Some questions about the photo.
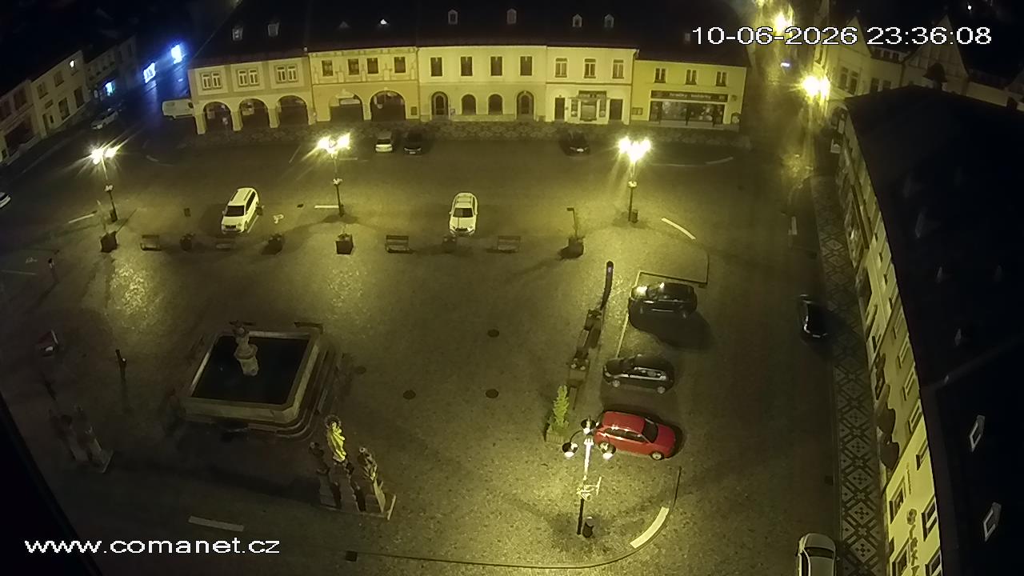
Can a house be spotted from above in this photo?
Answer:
Yes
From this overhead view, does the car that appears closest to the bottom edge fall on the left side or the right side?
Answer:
right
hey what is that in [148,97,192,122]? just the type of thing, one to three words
vehicle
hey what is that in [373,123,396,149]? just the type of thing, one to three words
car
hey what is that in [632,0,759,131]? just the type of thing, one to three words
house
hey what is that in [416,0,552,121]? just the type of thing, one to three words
house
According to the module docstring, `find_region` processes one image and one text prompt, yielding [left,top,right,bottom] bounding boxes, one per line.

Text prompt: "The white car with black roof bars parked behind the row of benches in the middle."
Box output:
[449,193,479,233]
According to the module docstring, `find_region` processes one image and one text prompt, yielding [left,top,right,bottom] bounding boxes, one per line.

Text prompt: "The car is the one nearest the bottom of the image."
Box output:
[795,540,852,576]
